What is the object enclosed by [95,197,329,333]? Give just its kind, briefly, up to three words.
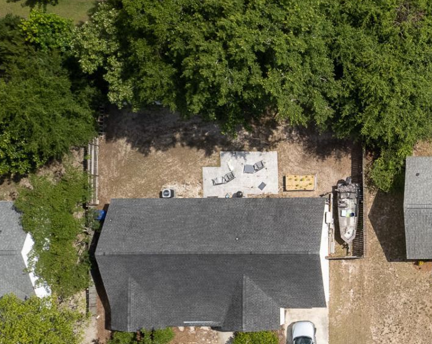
house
